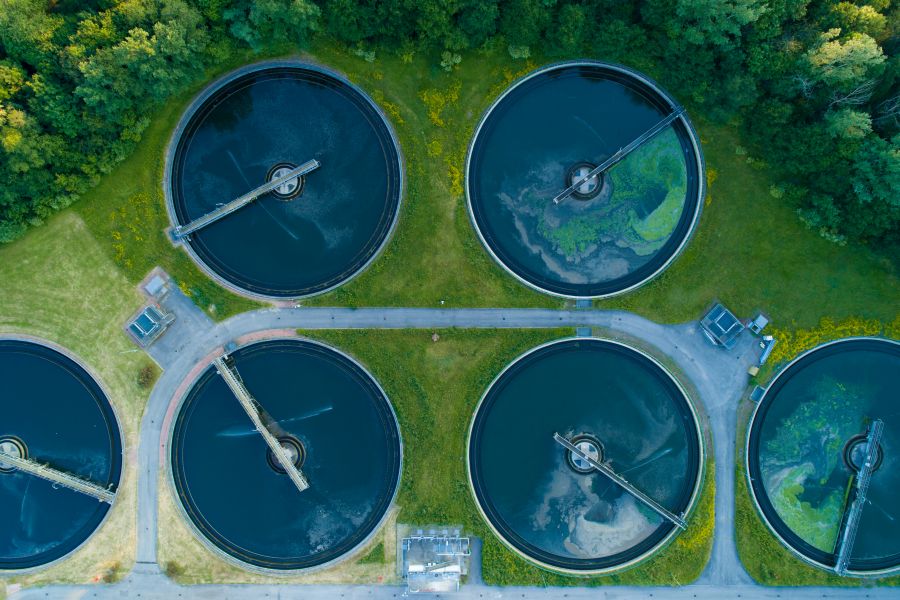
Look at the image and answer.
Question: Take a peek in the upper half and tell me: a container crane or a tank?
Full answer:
What appears in the upper half is a tank.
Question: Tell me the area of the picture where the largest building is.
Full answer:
You can find the largest building in the bottom area of the picture.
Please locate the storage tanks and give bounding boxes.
[0,334,127,575]
[739,332,900,577]
[463,333,707,576]
[463,59,707,302]
[169,335,406,572]
[164,61,405,301]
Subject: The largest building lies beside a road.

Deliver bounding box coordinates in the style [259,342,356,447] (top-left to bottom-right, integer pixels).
[403,531,469,592]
